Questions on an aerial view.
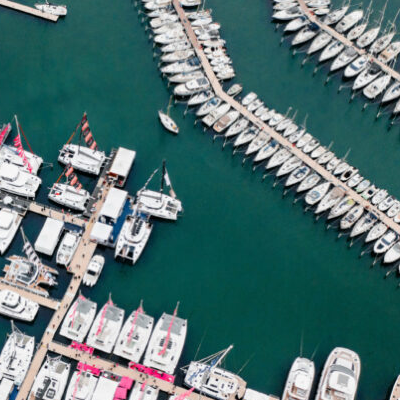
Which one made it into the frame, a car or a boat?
boat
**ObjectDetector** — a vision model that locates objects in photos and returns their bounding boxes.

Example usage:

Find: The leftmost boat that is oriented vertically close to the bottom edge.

[0,319,34,386]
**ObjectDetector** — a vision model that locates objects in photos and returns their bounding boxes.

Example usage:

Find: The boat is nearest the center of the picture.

[135,161,180,221]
